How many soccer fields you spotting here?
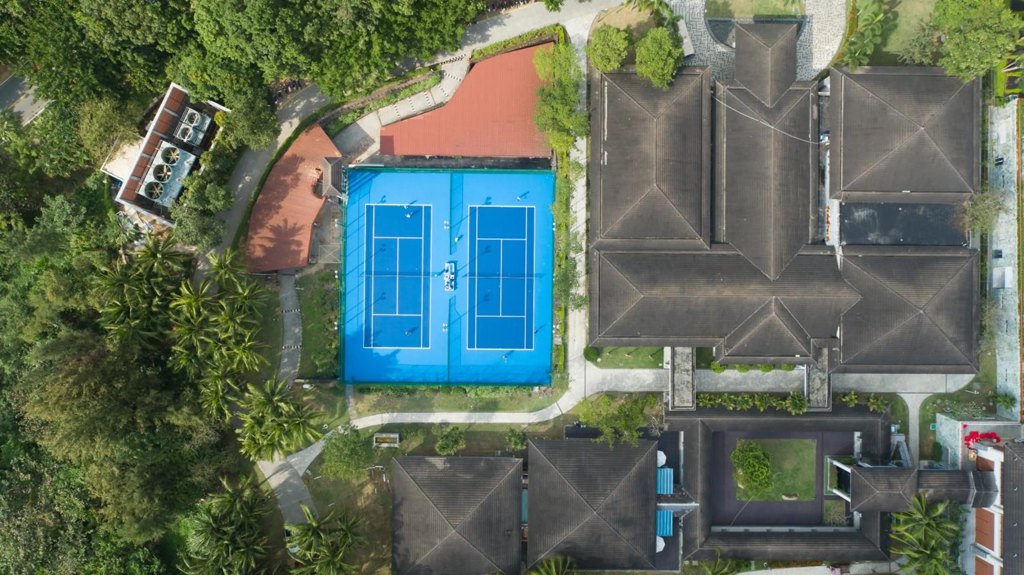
0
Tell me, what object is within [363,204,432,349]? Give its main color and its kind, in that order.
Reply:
blue tennis court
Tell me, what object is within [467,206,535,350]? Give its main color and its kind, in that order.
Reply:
blue tennis court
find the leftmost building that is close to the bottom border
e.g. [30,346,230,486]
[391,457,522,575]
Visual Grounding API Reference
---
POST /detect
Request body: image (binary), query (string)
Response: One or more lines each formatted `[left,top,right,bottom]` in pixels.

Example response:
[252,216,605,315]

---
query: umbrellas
[656,536,665,553]
[657,450,667,469]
